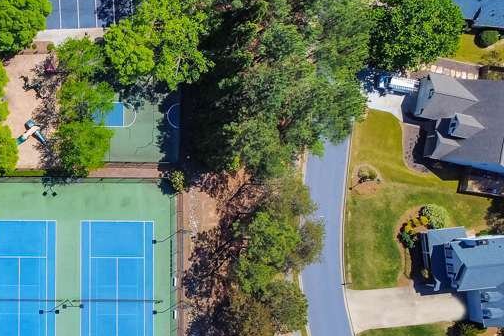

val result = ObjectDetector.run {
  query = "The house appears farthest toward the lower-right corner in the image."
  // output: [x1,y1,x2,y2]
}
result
[418,227,504,332]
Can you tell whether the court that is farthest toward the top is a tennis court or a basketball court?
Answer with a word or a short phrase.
basketball court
